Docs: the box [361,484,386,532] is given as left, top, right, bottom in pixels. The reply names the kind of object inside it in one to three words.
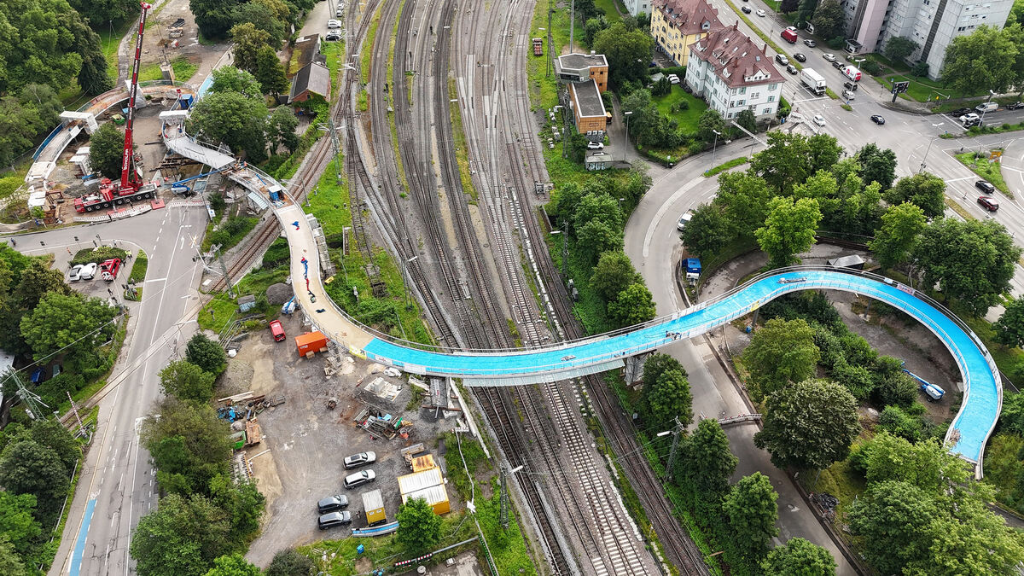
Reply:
building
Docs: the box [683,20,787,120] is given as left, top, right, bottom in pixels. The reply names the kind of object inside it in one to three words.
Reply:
house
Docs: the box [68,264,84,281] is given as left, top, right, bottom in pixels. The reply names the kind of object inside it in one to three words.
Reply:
car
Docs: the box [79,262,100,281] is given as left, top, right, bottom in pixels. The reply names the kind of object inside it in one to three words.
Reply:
vehicle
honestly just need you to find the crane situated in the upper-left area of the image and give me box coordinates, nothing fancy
[68,0,162,219]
